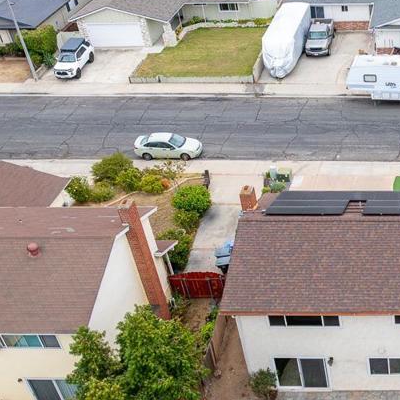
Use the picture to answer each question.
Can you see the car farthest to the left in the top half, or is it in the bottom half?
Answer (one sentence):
The car farthest to the left sits in the top half of the picture.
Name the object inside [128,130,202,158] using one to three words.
car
